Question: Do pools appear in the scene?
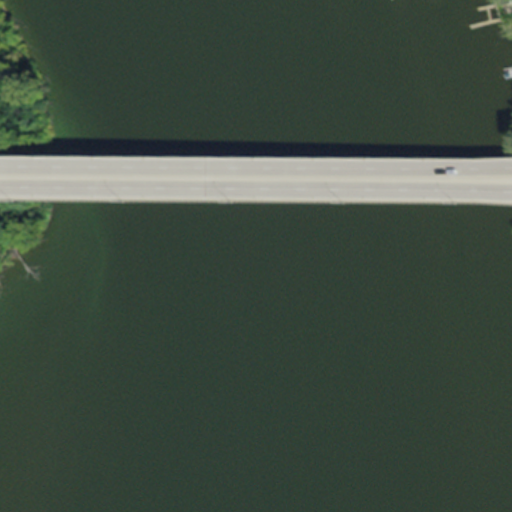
No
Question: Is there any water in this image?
Yes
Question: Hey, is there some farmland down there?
No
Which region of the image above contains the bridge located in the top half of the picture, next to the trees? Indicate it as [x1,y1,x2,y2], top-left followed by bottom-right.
[0,156,512,206]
